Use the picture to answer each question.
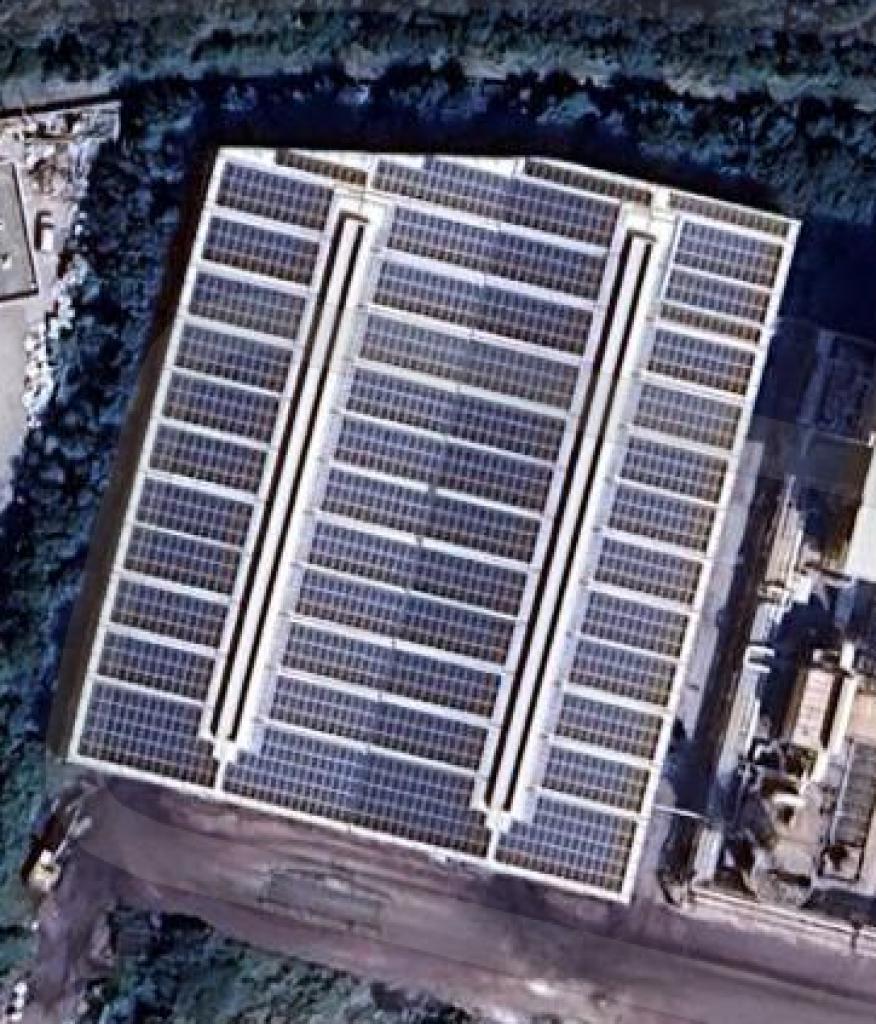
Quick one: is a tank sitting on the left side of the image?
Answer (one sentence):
No, looking on the left side of the image, there is no tank.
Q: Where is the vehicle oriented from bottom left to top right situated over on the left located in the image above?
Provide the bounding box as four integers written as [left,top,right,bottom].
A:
[26,822,86,893]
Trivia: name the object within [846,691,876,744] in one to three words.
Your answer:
building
